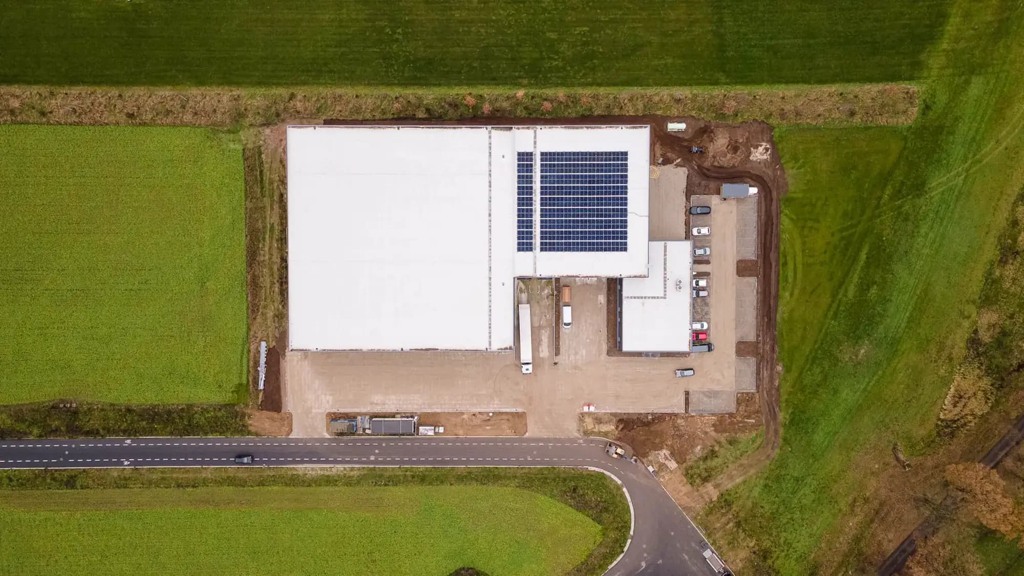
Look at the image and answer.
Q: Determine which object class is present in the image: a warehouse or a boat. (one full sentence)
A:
Of the two, only a warehouse appears.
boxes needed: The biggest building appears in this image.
[287,126,514,351]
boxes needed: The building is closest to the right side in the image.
[616,241,693,355]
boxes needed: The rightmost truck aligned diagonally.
[704,549,731,576]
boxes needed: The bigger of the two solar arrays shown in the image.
[540,150,628,253]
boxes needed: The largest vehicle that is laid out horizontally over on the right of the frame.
[717,184,756,197]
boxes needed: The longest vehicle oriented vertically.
[519,304,533,373]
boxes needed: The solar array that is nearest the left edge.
[517,151,533,252]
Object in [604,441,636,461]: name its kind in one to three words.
work vehicle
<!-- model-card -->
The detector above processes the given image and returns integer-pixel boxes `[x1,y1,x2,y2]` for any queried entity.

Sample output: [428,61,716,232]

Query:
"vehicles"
[562,306,572,327]
[690,145,705,153]
[717,184,756,197]
[704,549,731,576]
[519,304,533,373]
[675,369,694,377]
[692,227,710,235]
[692,290,708,297]
[235,456,253,464]
[692,321,707,330]
[604,441,636,461]
[690,206,711,214]
[692,279,708,286]
[691,343,713,353]
[692,247,710,255]
[692,333,707,340]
